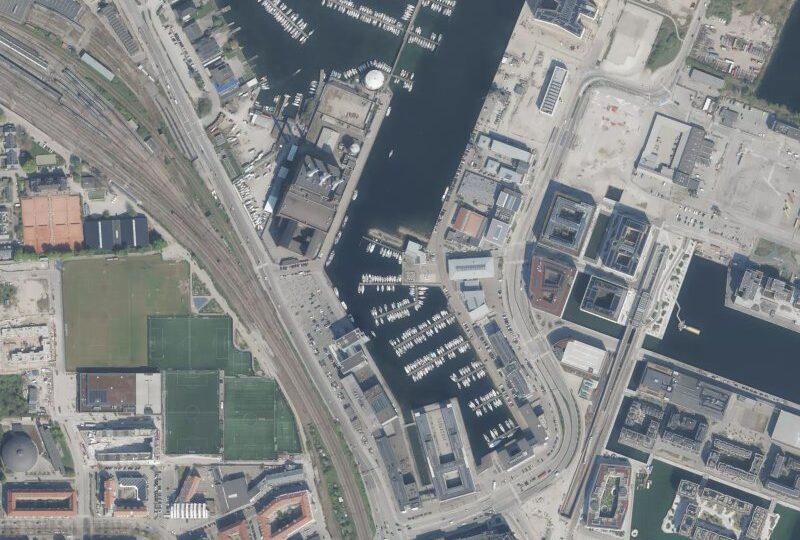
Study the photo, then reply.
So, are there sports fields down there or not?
Yes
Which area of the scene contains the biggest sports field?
left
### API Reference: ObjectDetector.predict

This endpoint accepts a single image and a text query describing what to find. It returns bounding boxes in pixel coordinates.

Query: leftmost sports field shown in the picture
[63,253,189,371]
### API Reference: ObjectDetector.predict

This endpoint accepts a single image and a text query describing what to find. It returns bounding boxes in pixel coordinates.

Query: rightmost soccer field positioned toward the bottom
[273,377,300,452]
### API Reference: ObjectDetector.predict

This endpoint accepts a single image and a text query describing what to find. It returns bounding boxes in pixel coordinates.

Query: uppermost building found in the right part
[534,0,602,40]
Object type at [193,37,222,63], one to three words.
building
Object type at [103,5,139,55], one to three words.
shed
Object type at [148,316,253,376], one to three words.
soccer field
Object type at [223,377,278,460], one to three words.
soccer field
